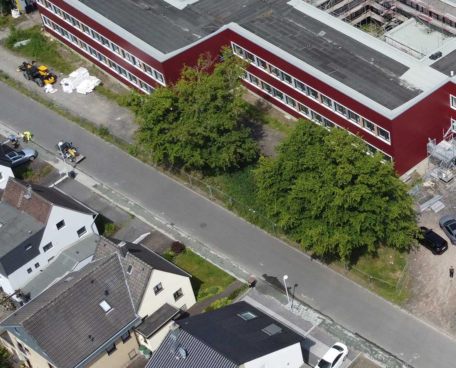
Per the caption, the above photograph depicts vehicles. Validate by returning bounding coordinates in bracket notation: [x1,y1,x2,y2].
[437,213,456,249]
[7,147,46,168]
[413,222,452,258]
[311,338,356,368]
[14,66,57,89]
[57,136,87,167]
